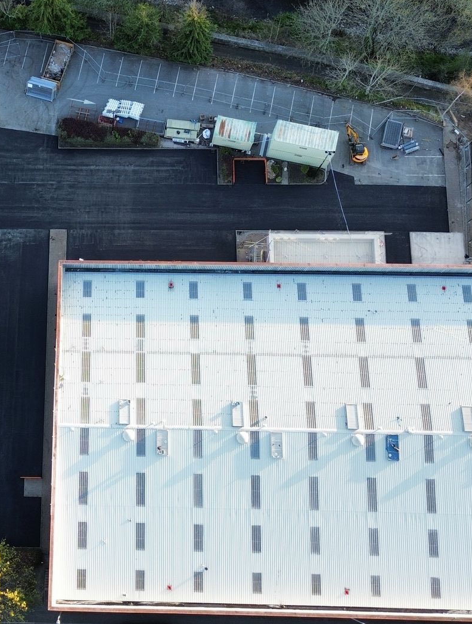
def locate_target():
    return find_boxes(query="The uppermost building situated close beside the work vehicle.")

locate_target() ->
[267,119,339,166]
